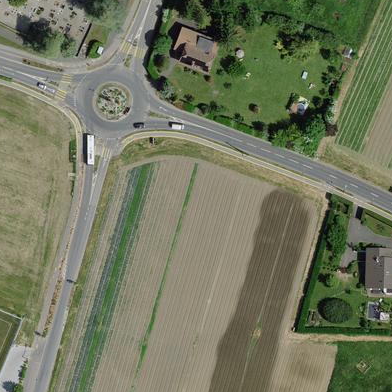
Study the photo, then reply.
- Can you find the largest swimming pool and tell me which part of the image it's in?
bottom right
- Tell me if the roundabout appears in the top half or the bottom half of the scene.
top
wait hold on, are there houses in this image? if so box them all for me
[367,248,392,298]
[174,26,220,75]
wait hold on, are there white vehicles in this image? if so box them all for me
[88,135,96,166]
[37,83,48,90]
[171,124,184,130]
